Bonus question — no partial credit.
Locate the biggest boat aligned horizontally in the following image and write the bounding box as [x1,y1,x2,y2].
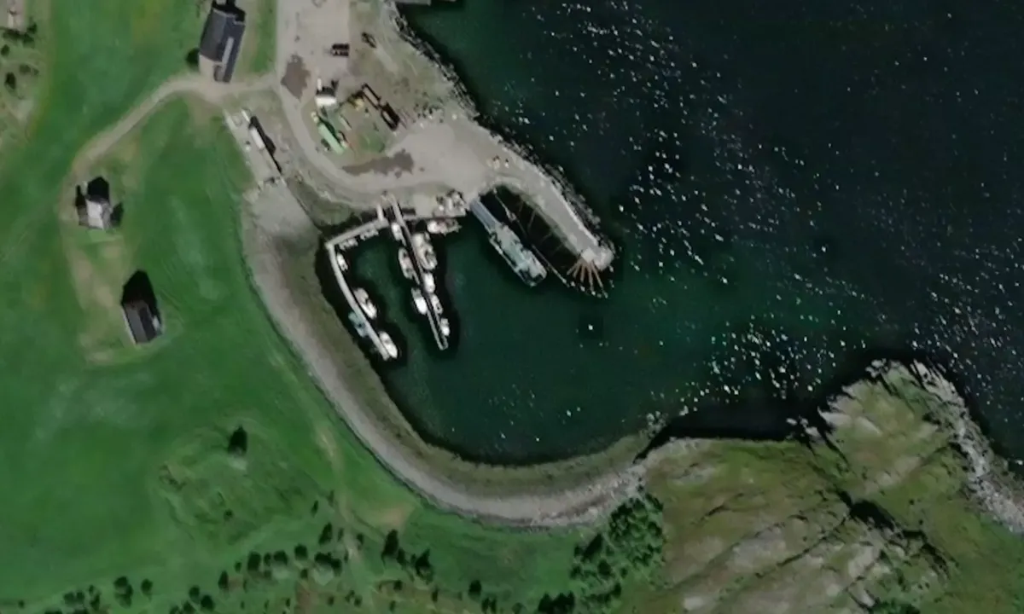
[427,220,459,233]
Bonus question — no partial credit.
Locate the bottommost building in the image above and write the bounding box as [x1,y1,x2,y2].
[123,295,163,345]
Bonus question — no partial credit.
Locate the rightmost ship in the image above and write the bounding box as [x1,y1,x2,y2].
[489,220,543,283]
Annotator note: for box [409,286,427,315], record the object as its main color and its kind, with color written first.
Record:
white boat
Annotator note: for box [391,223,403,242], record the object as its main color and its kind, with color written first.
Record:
white boat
